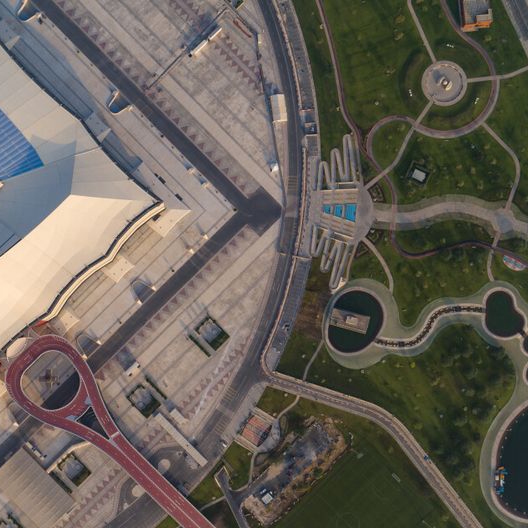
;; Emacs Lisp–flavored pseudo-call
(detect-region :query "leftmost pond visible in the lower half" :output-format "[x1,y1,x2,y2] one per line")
[330,292,382,350]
